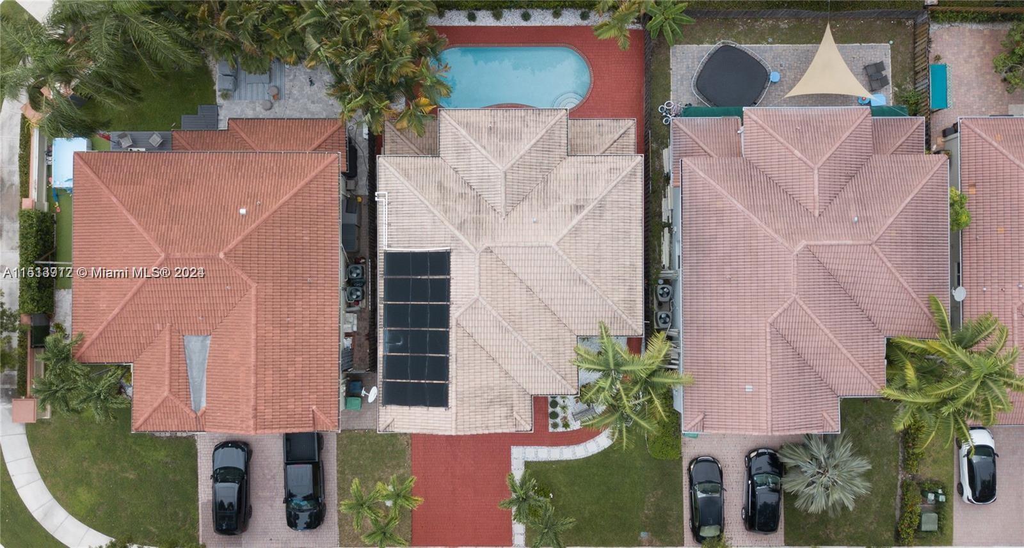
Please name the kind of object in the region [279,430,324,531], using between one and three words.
truck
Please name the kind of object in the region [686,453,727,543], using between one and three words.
car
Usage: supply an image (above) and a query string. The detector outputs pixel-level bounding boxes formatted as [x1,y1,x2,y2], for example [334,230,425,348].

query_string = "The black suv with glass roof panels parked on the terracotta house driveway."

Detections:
[206,441,251,533]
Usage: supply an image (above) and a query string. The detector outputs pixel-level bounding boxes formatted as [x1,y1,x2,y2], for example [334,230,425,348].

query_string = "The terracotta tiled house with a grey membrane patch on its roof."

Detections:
[71,116,348,438]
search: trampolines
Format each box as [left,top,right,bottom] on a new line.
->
[695,43,770,106]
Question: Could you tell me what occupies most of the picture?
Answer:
buildings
